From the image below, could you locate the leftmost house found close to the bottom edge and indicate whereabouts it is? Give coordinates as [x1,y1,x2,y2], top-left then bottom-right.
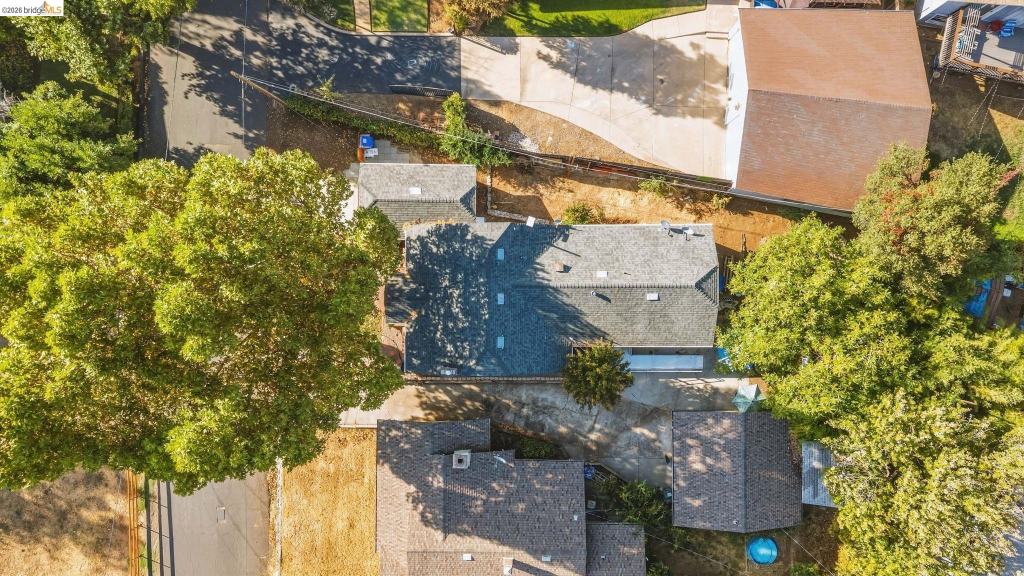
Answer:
[376,418,647,576]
